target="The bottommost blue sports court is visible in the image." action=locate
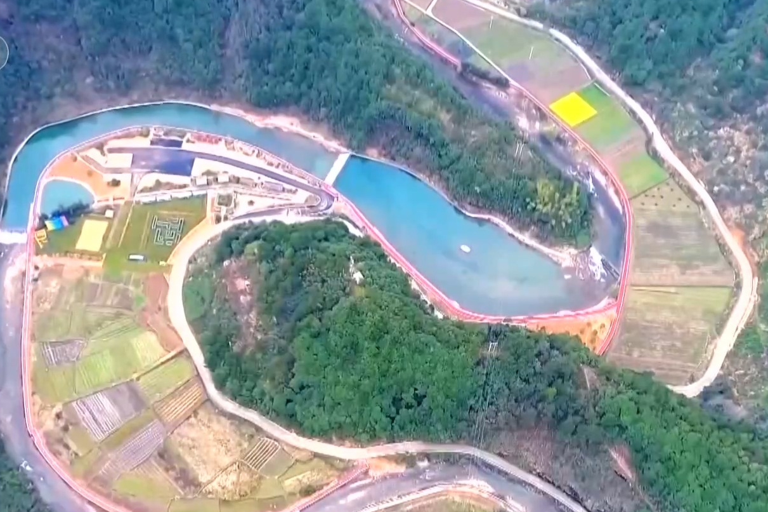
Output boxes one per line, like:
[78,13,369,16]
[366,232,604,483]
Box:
[159,160,194,176]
